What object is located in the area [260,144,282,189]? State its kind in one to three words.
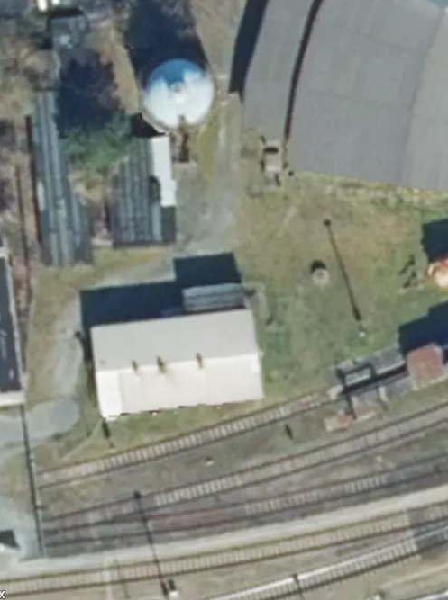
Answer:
trailer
